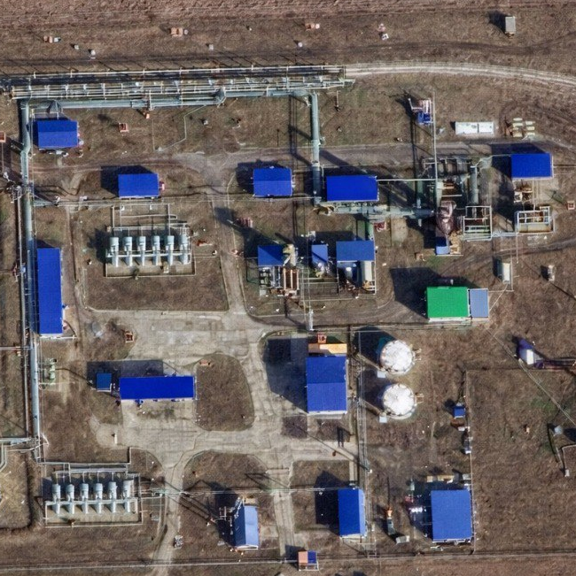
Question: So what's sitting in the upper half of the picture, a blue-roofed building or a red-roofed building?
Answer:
blue-roofed building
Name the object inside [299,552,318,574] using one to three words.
shed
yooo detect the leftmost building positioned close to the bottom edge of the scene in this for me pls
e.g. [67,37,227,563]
[234,504,259,551]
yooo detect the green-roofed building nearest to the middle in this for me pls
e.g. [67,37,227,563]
[426,287,469,325]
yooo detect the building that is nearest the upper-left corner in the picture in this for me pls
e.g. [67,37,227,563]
[38,120,79,151]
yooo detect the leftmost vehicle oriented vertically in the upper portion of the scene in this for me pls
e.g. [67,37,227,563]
[413,92,431,125]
